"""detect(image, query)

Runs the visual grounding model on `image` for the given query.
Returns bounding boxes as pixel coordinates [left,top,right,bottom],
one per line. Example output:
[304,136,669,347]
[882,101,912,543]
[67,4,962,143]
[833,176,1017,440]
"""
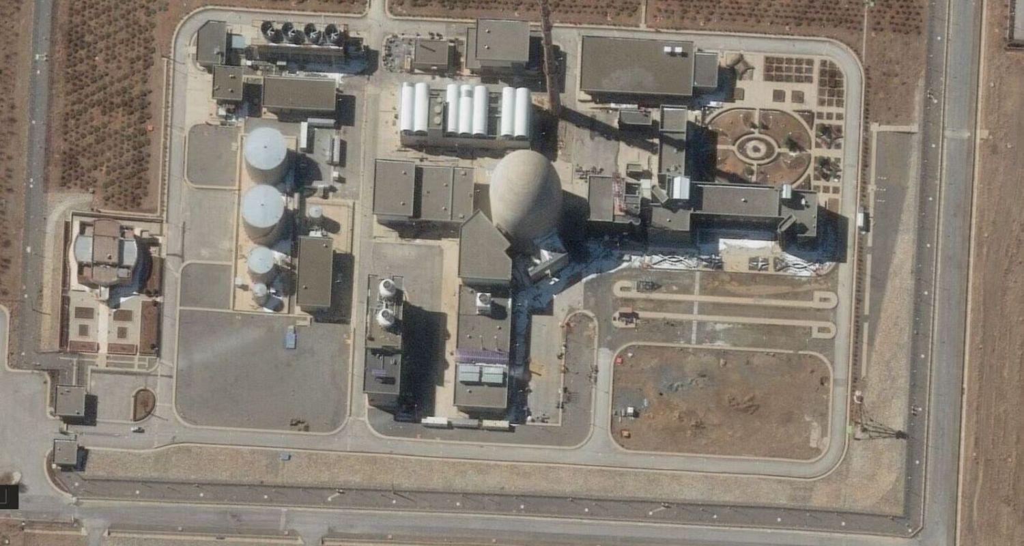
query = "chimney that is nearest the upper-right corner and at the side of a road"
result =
[541,0,563,121]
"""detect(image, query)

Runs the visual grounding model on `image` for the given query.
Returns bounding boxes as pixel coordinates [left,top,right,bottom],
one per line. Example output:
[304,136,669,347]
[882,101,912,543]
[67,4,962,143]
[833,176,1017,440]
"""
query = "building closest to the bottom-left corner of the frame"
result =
[54,439,79,470]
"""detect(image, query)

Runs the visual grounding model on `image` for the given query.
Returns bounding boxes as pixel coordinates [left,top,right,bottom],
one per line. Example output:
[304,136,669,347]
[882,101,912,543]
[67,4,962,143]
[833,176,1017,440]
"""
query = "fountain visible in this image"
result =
[747,138,766,158]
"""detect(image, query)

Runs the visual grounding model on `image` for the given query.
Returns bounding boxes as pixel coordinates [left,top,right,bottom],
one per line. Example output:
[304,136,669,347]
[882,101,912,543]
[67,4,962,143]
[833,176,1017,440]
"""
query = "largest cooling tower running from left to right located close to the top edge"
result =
[252,18,350,62]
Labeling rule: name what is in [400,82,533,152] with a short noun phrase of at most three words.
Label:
building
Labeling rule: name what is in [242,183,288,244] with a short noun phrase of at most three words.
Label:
storage tank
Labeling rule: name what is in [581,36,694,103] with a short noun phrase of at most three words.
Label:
building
